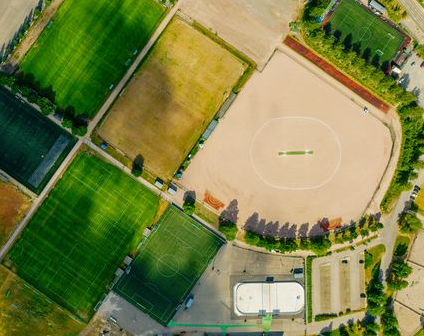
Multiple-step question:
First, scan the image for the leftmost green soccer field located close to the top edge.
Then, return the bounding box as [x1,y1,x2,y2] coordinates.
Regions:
[20,0,165,119]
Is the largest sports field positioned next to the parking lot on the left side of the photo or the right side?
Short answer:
right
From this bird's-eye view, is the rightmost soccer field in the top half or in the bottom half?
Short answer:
top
